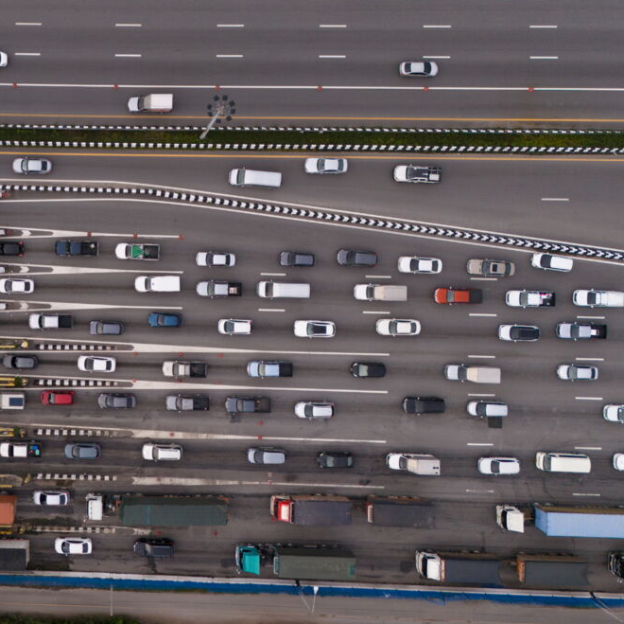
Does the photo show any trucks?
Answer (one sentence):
Yes, looking at the shot, I can spot a truck.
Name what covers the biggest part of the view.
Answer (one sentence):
The scene is dominated by paved ground.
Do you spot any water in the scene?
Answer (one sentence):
No, no water is visible.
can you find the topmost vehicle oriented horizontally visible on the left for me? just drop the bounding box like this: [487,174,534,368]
[127,93,174,112]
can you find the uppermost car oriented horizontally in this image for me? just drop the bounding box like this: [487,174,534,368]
[399,60,437,79]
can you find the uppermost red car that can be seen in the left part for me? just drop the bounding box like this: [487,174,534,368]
[41,389,76,407]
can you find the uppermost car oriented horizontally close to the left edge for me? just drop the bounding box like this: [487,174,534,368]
[12,156,52,175]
